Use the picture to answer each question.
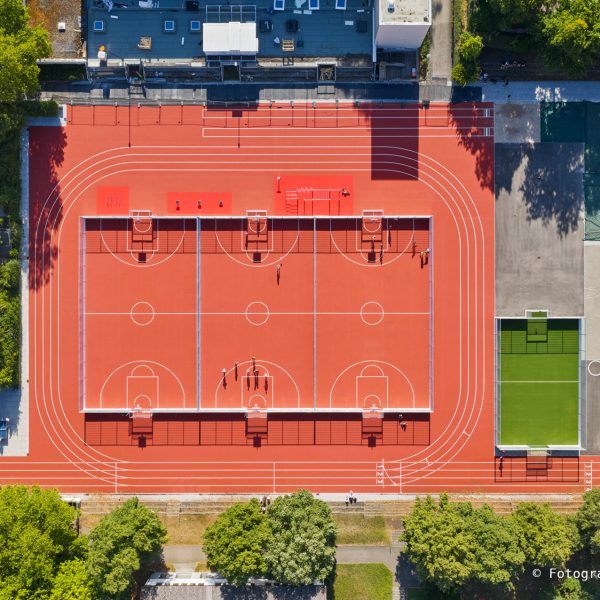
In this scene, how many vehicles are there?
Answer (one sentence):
There are no vehicles in the image.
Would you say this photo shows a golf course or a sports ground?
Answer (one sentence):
It's a sports ground.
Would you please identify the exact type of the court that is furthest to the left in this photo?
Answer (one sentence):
I'd identify the court that is furthest to the left as a basketball court.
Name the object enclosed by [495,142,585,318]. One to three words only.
sports court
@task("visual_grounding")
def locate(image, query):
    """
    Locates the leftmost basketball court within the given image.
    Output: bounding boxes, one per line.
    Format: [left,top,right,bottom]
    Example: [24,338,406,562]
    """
[86,218,197,410]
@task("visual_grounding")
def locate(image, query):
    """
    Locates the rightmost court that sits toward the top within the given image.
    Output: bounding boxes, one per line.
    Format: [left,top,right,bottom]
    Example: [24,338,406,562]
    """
[540,102,600,241]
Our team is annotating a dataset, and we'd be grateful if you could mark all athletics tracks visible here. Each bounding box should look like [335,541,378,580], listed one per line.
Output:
[0,103,600,494]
